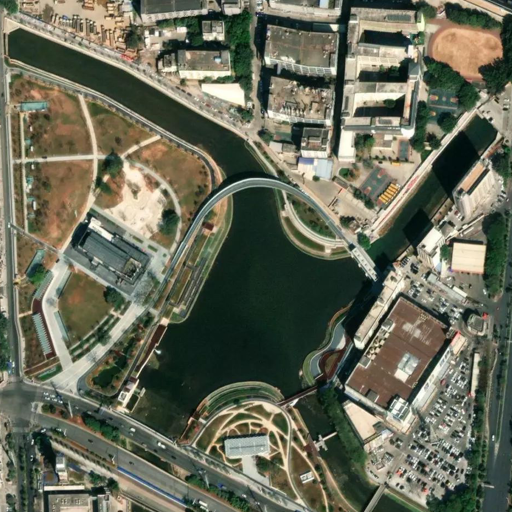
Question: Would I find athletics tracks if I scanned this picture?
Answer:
Yes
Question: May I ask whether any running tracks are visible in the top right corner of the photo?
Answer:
Yes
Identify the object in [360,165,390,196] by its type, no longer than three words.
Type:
basketball court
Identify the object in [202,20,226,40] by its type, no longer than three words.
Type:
building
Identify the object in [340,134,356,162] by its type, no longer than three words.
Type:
building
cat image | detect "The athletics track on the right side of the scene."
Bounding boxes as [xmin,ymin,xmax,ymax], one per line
[427,20,510,85]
